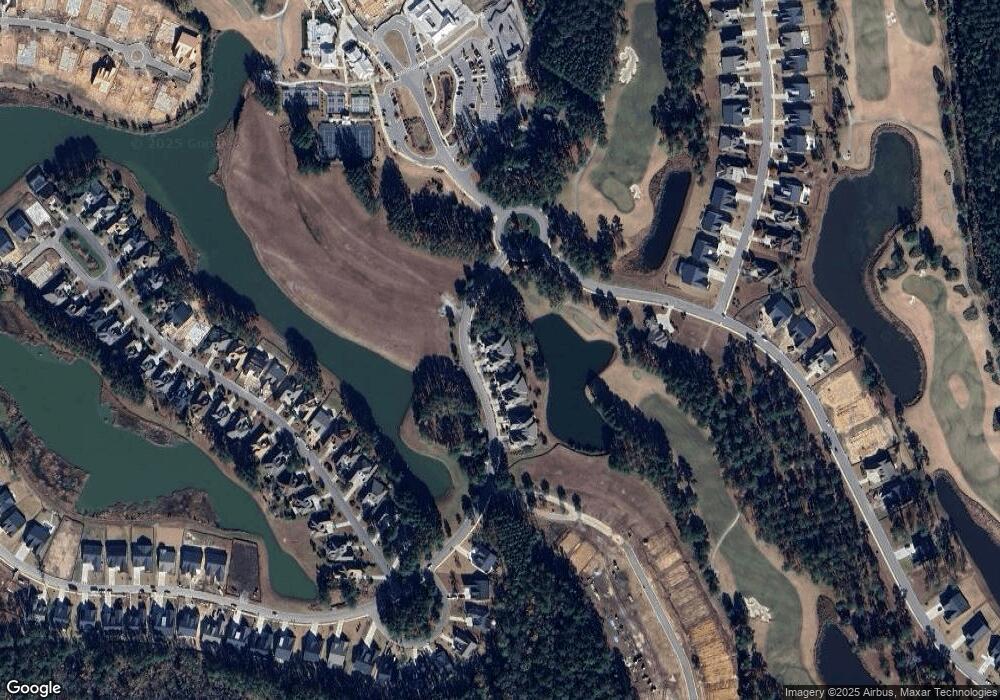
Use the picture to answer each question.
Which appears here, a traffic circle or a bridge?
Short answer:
traffic circle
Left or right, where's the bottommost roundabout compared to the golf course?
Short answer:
to the left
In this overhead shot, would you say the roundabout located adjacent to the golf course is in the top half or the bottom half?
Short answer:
top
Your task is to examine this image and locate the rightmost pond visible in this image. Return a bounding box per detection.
[934,471,1000,609]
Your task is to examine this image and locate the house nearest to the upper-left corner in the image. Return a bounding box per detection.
[89,62,118,89]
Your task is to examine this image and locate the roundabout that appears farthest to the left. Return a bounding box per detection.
[53,218,116,289]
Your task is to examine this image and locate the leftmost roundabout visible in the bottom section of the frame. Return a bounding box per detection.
[369,560,450,647]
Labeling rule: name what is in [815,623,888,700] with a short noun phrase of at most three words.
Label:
pond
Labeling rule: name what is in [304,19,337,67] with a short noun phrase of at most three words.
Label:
building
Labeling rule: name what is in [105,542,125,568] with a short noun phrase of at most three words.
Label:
house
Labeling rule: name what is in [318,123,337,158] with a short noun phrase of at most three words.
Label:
tennis court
